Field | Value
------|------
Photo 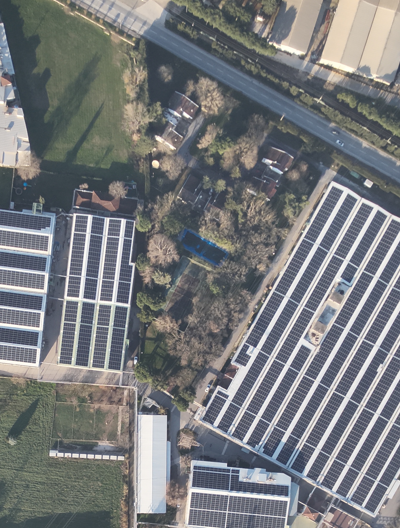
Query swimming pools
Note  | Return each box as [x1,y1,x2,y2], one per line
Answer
[181,229,228,264]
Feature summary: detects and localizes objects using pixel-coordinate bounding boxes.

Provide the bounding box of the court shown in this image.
[163,256,213,332]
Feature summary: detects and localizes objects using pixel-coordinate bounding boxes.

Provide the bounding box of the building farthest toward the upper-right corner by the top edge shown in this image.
[319,0,400,89]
